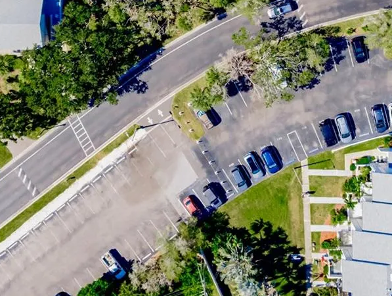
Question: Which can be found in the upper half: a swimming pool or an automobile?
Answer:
automobile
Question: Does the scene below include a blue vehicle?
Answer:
Yes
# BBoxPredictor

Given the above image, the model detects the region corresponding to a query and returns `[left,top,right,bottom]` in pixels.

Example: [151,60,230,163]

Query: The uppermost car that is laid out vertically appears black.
[353,36,366,63]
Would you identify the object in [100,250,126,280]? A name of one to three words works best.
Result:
truck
